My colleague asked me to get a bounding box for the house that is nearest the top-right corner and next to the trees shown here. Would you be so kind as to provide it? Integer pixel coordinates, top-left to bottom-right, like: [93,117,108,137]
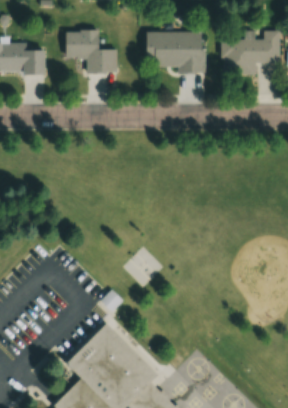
[222,31,282,76]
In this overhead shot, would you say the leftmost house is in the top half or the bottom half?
top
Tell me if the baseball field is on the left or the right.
right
